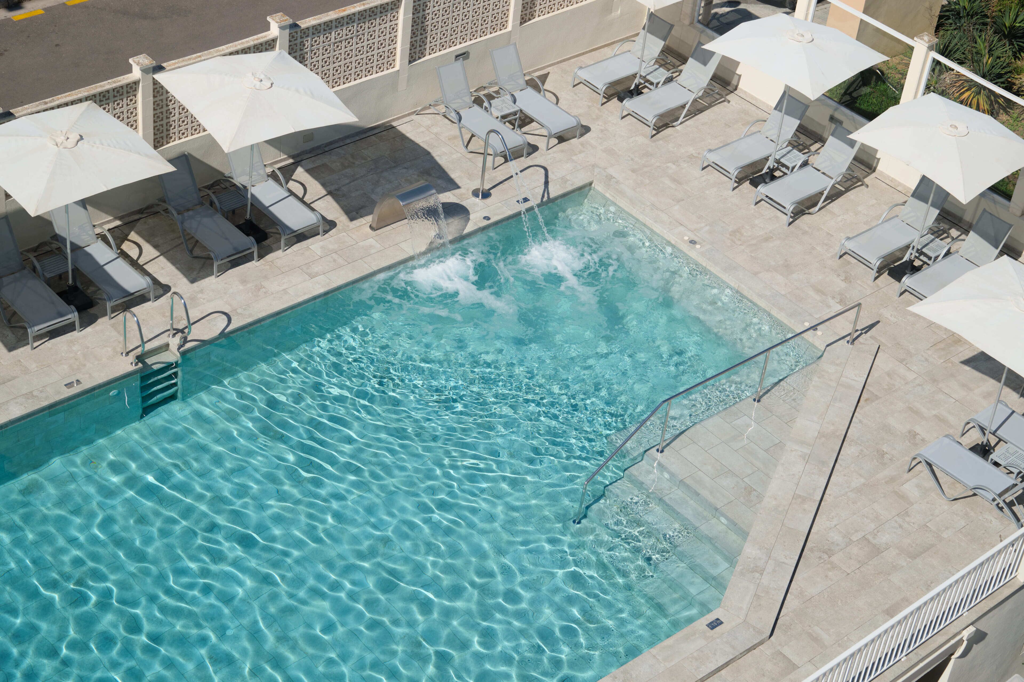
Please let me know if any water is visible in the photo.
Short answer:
Yes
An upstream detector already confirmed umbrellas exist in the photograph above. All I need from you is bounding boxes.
[0,103,175,307]
[154,49,359,238]
[617,0,665,98]
[905,258,1024,469]
[701,11,890,184]
[847,92,1024,279]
